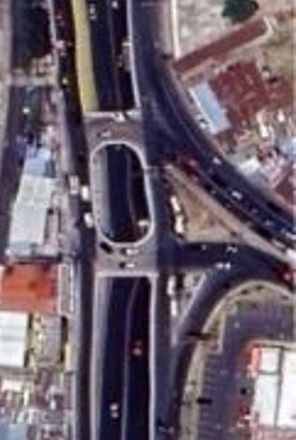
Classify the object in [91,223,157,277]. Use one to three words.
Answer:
overpass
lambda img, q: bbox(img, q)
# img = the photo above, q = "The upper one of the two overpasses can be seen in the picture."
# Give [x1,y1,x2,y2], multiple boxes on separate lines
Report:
[83,111,150,166]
